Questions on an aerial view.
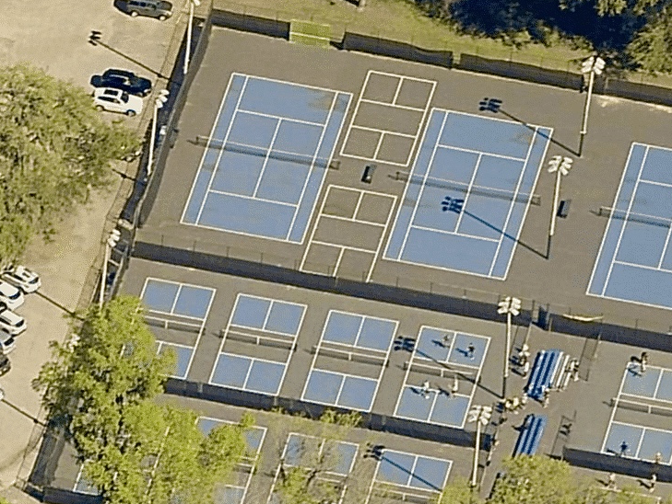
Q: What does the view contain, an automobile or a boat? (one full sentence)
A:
I can see an automobile in this picture.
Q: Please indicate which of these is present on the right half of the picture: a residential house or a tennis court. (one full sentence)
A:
You can see a tennis court on the right half of the picture.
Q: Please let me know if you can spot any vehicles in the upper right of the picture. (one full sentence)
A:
No, looking in the upper right of the picture, there is no vehicle.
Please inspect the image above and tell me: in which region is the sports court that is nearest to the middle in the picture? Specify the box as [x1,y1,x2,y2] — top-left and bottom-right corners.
[301,185,395,282]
